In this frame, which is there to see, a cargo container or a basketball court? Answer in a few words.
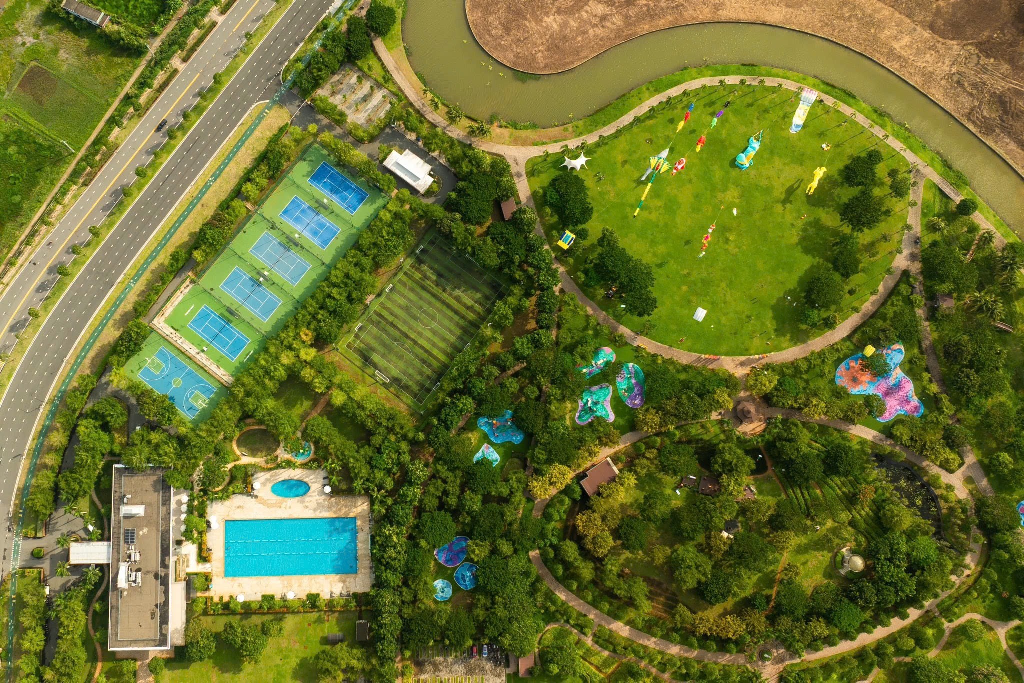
basketball court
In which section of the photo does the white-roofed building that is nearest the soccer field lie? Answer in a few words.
top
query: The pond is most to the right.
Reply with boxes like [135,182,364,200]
[874,455,941,544]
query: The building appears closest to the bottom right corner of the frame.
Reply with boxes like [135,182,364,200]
[835,544,865,580]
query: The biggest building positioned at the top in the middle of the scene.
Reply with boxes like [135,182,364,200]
[384,149,434,195]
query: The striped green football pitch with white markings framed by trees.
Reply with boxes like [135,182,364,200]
[346,234,510,405]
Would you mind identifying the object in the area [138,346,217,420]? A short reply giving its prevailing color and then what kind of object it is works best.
blue basketball court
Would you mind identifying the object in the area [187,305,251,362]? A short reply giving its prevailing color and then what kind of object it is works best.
blue tennis court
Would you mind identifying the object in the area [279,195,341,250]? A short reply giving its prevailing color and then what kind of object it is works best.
blue tennis court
